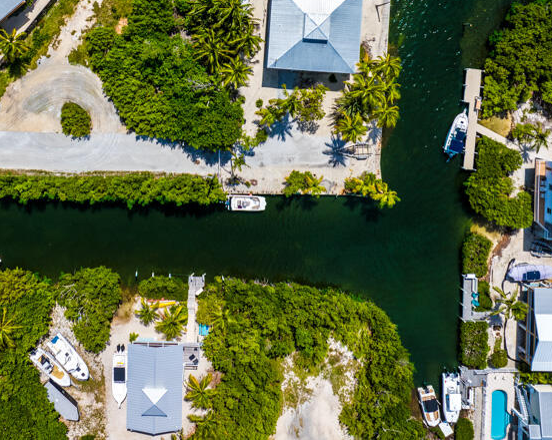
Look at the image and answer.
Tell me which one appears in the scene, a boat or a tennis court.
boat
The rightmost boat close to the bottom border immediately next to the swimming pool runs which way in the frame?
up and down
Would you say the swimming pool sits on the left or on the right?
right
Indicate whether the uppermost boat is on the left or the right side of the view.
right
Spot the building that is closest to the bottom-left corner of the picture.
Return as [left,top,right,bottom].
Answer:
[127,334,200,436]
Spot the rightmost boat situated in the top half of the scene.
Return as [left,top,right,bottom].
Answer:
[441,110,468,158]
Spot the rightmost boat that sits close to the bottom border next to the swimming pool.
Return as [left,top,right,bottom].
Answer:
[441,369,462,423]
